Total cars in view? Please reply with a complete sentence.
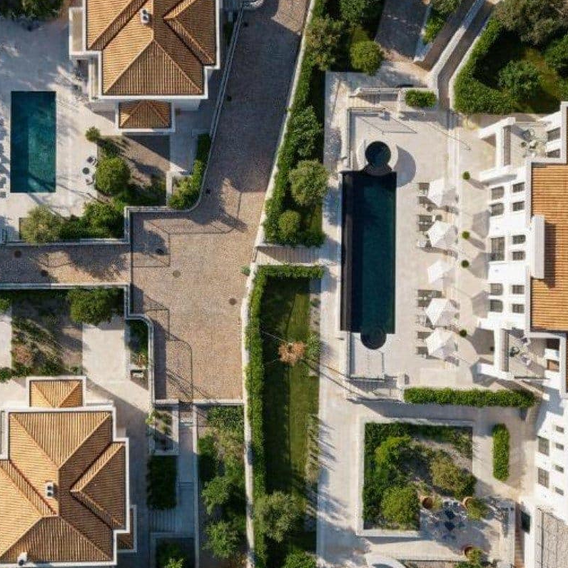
I count no cars.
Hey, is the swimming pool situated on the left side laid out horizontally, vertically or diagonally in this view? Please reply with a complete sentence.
From this overhead view, the swimming pool situated on the left side appears to run vertically.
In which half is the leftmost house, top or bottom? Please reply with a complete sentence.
You can find the leftmost house in the bottom half.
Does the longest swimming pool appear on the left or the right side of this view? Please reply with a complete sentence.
It is on the right.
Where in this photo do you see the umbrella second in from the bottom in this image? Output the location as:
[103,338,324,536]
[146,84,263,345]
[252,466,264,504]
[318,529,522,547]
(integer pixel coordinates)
[424,295,455,328]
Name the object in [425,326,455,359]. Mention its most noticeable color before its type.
white umbrella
